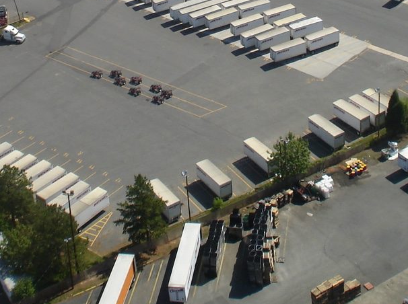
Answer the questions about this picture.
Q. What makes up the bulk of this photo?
paved ground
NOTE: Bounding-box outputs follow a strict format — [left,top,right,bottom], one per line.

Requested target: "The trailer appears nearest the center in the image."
[197,159,233,201]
